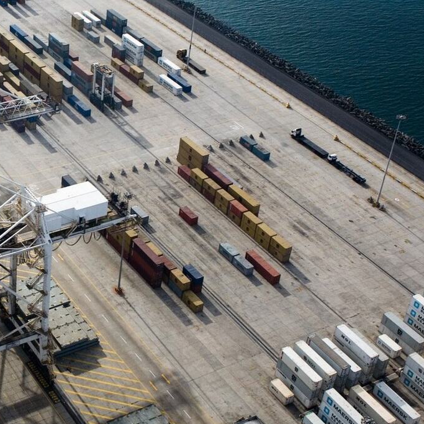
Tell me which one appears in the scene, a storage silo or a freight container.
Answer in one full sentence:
Visible in the photo is a freight container.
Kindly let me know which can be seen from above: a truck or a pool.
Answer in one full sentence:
I can see a truck in this picture.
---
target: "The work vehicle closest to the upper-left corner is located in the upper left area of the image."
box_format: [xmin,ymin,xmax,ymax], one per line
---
[91,63,119,111]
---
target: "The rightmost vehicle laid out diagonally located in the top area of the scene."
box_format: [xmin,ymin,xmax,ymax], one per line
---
[326,150,369,183]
